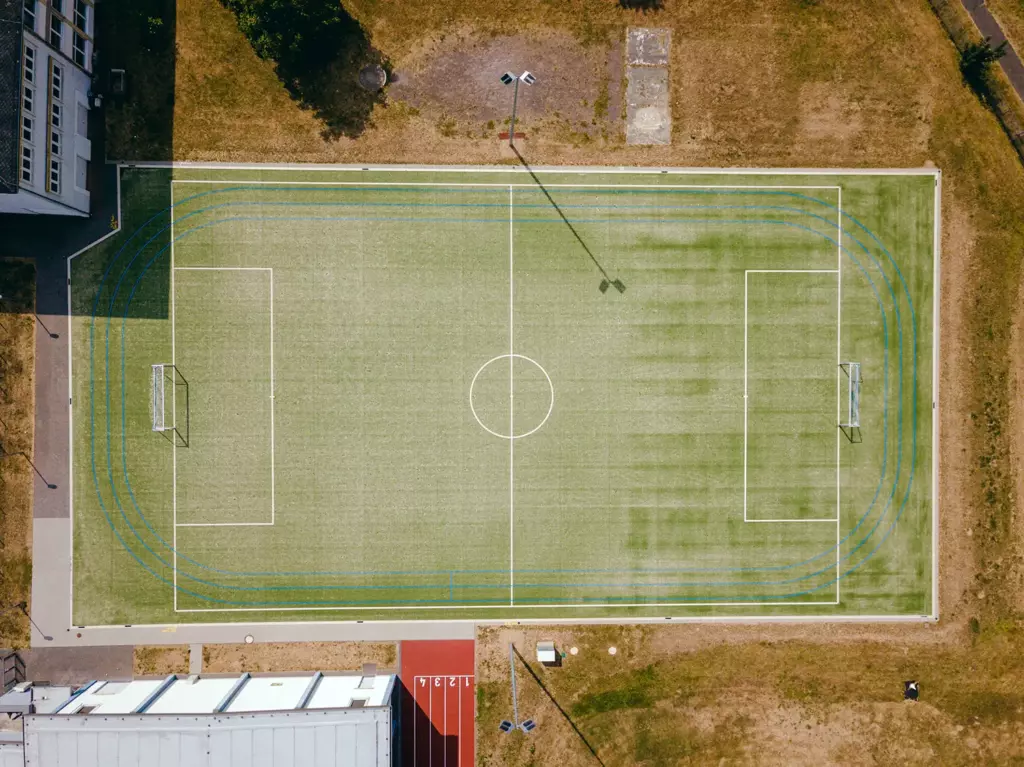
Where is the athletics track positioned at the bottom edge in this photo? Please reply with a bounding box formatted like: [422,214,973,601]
[401,640,475,767]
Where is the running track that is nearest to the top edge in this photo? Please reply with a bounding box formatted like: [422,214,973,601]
[90,187,916,605]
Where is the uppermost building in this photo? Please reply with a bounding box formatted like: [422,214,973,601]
[0,0,95,218]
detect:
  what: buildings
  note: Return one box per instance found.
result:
[0,0,95,218]
[23,670,397,767]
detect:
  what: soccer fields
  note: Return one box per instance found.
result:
[66,158,941,632]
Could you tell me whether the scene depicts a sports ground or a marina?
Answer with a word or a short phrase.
sports ground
